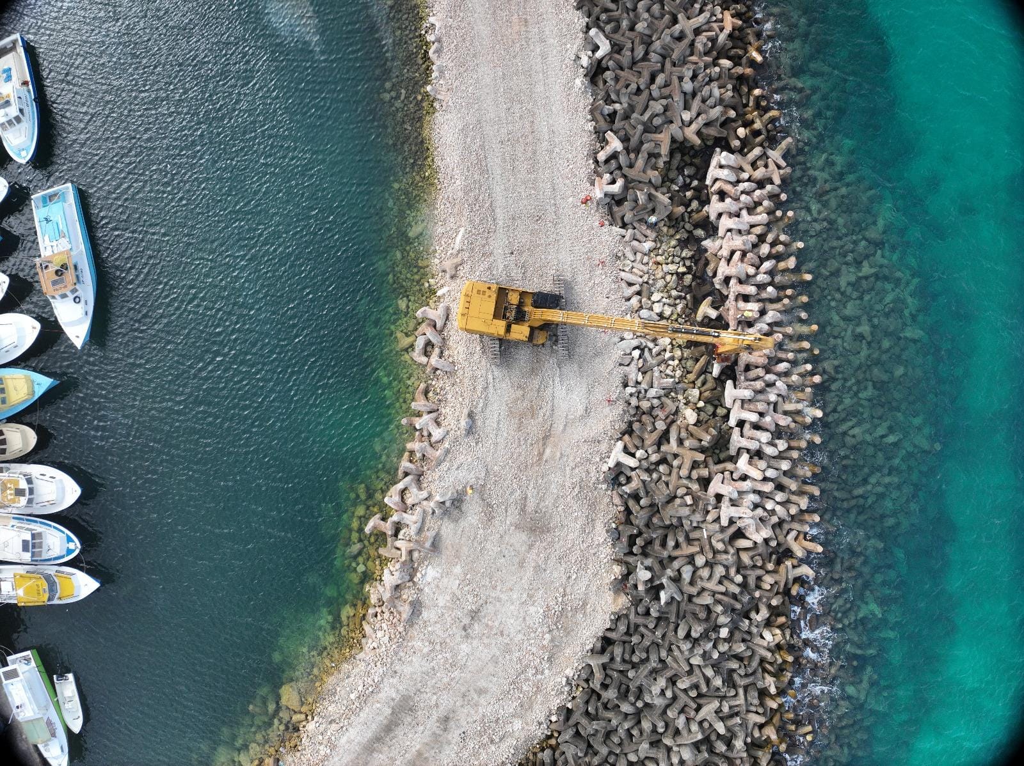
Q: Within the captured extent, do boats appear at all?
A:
Yes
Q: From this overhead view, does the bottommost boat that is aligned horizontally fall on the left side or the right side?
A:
left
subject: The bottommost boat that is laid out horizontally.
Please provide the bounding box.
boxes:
[0,563,100,606]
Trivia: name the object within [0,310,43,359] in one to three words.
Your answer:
boat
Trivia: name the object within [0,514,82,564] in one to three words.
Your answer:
boat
